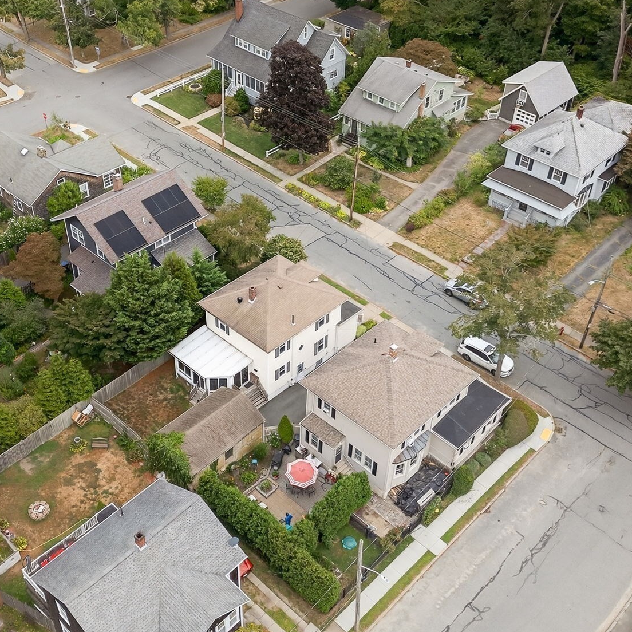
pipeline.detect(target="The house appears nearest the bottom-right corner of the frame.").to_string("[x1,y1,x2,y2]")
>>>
[298,318,513,490]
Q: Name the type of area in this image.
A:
residential area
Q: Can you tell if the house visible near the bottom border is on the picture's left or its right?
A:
left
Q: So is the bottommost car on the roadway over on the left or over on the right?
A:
right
